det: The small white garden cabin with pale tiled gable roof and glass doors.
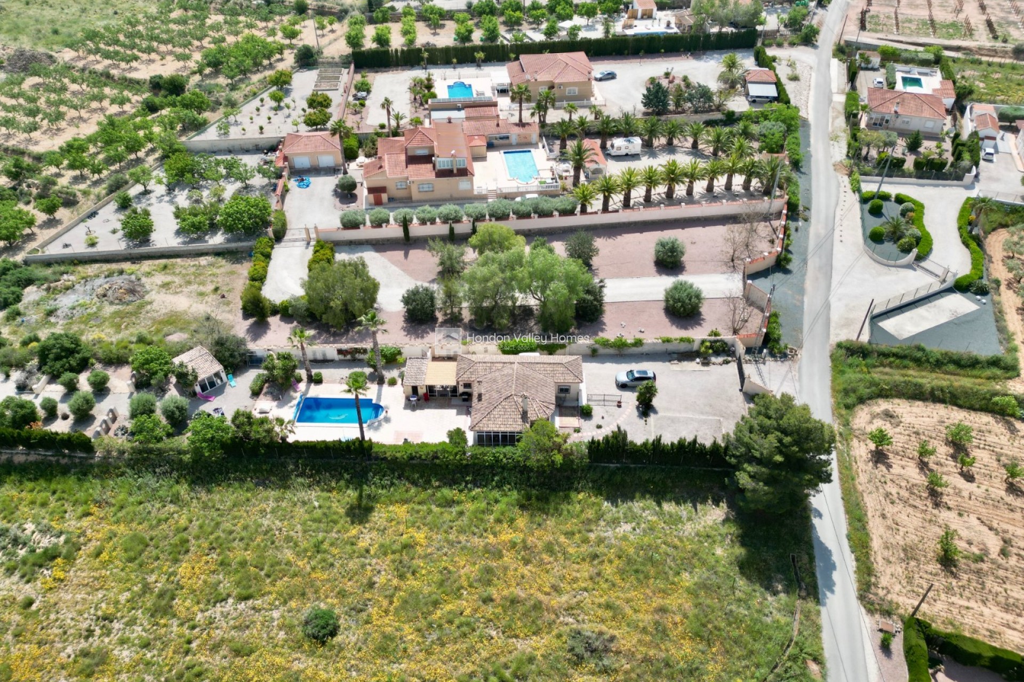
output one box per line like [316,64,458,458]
[173,345,227,394]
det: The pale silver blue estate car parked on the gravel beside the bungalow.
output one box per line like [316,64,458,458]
[614,367,657,387]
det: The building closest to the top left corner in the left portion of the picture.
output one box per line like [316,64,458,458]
[282,131,340,167]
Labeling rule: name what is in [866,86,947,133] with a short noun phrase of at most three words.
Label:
house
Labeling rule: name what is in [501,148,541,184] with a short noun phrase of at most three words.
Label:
swimming pool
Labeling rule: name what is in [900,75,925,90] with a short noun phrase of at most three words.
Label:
swimming pool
